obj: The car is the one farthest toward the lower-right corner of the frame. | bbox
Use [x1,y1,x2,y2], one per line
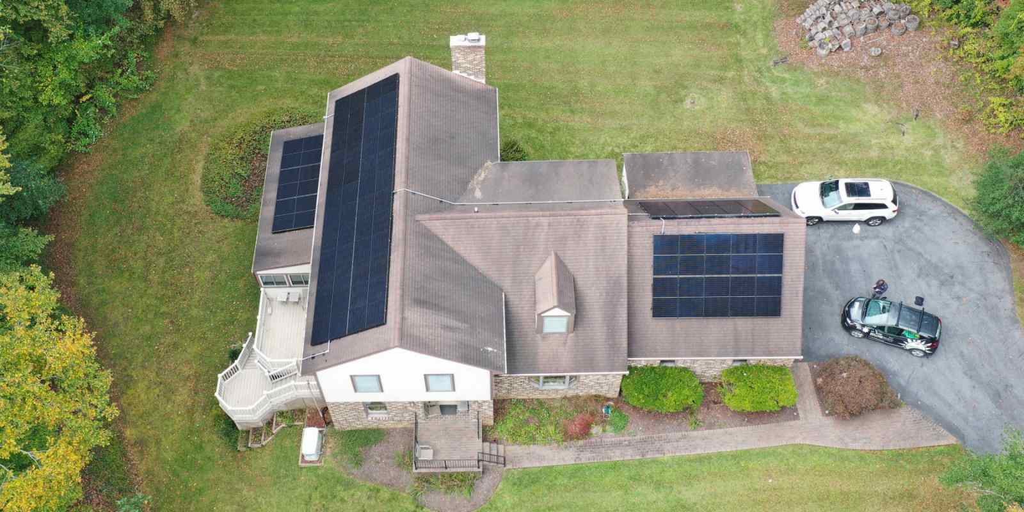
[841,297,943,358]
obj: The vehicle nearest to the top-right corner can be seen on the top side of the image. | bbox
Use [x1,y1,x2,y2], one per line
[790,176,898,227]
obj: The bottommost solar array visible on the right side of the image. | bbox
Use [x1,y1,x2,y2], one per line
[652,232,782,319]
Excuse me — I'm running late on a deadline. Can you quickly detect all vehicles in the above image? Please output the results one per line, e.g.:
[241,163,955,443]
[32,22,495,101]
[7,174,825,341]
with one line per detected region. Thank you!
[790,176,898,227]
[841,297,943,358]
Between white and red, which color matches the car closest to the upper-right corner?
white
